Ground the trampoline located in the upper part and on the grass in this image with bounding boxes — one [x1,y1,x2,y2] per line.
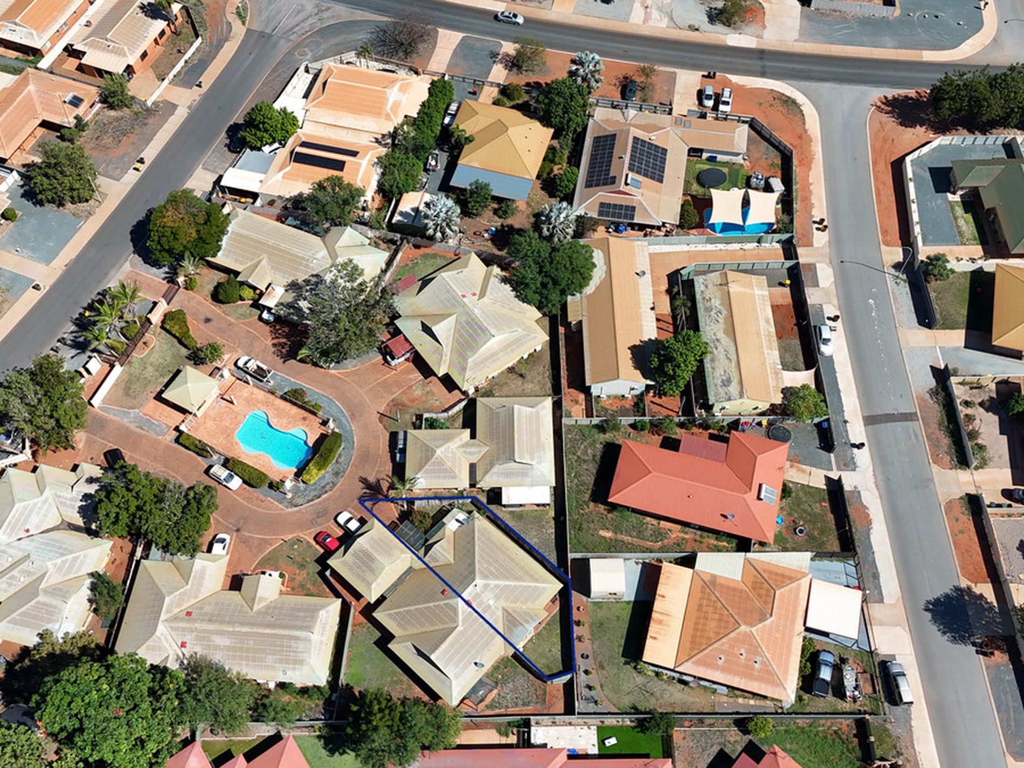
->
[699,166,727,187]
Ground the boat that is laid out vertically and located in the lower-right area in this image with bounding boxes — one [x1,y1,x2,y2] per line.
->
[845,658,864,707]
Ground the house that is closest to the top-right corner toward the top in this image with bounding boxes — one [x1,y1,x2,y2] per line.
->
[949,159,1024,261]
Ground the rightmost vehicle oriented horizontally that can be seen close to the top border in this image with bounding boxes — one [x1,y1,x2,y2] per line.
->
[495,11,524,27]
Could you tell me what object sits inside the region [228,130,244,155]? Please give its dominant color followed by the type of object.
black car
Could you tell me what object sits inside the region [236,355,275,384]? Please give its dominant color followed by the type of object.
white car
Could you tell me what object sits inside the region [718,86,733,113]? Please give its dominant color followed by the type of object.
white car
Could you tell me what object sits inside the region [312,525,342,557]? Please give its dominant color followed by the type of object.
red car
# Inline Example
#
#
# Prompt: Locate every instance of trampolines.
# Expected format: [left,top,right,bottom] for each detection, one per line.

[699,166,727,187]
[767,423,792,443]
